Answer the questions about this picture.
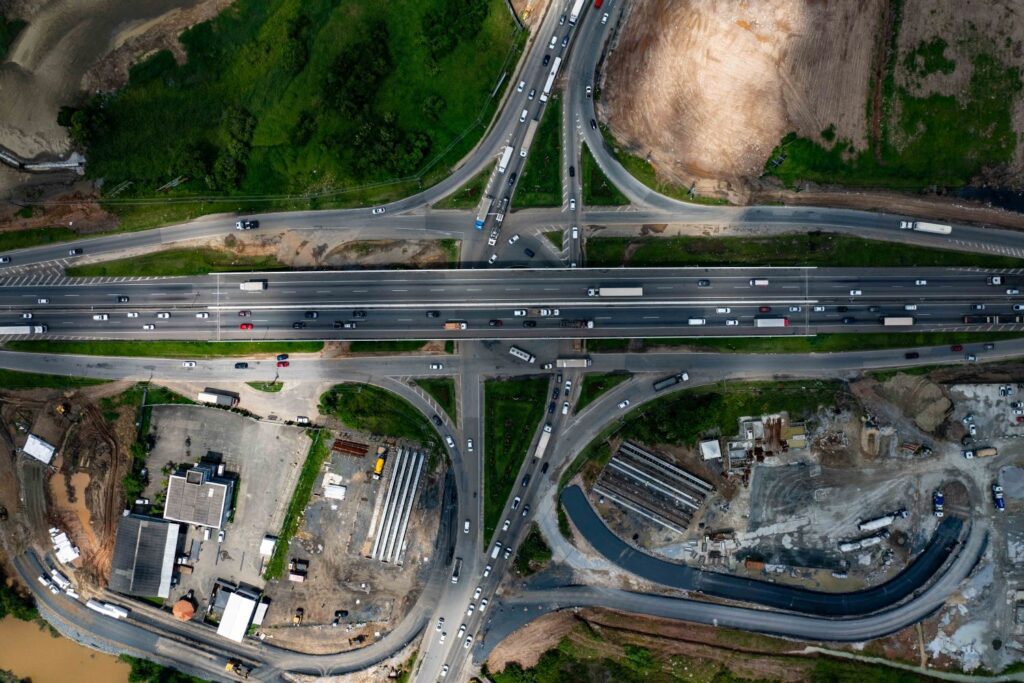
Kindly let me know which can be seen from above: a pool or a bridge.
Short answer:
bridge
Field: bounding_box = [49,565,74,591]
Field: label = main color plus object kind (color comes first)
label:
white truck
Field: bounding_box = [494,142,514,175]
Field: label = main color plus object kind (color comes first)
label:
white vehicle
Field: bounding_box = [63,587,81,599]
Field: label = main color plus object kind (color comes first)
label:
white vehicle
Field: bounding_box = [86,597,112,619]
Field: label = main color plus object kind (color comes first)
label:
white truck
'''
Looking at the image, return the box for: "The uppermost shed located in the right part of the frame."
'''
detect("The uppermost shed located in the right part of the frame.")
[699,439,721,459]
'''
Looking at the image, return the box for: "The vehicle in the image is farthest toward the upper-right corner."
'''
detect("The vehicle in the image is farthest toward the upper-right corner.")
[898,221,953,235]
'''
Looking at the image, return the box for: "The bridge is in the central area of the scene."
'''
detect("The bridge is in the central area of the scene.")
[208,267,818,342]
